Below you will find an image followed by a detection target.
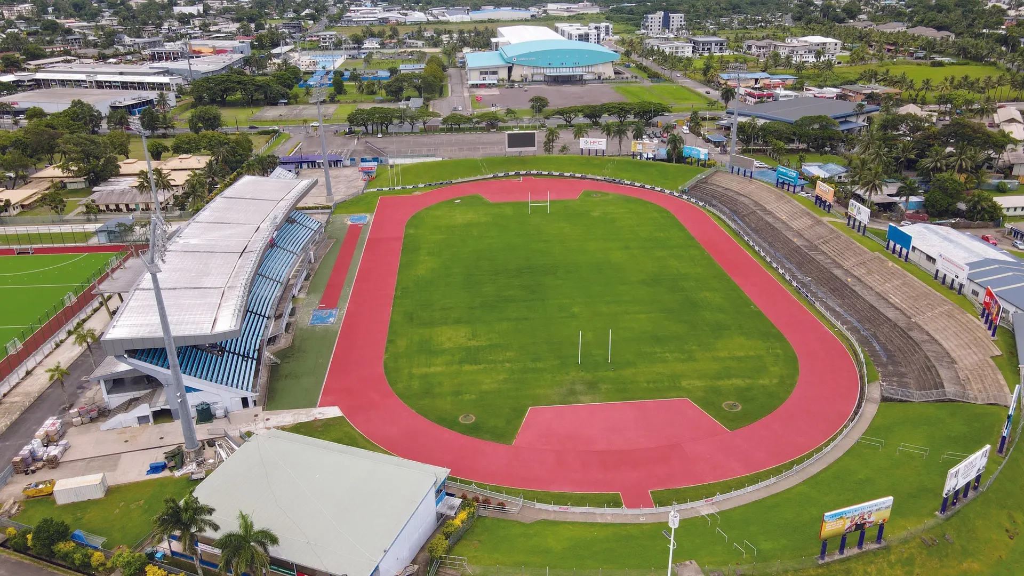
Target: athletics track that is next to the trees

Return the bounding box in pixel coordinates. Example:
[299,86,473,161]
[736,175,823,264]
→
[319,178,858,492]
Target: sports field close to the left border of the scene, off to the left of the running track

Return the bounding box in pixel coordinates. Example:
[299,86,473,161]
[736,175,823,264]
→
[0,252,129,353]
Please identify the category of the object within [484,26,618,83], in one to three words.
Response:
stadium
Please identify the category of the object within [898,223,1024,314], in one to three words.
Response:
shed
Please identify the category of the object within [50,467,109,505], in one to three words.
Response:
shipping container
